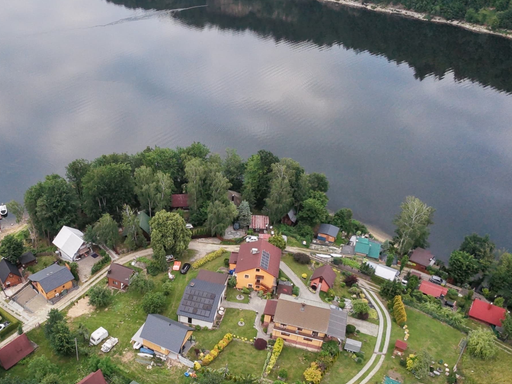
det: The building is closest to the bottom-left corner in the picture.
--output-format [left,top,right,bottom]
[0,334,35,371]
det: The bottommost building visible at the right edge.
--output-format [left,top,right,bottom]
[469,297,509,329]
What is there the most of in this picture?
water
